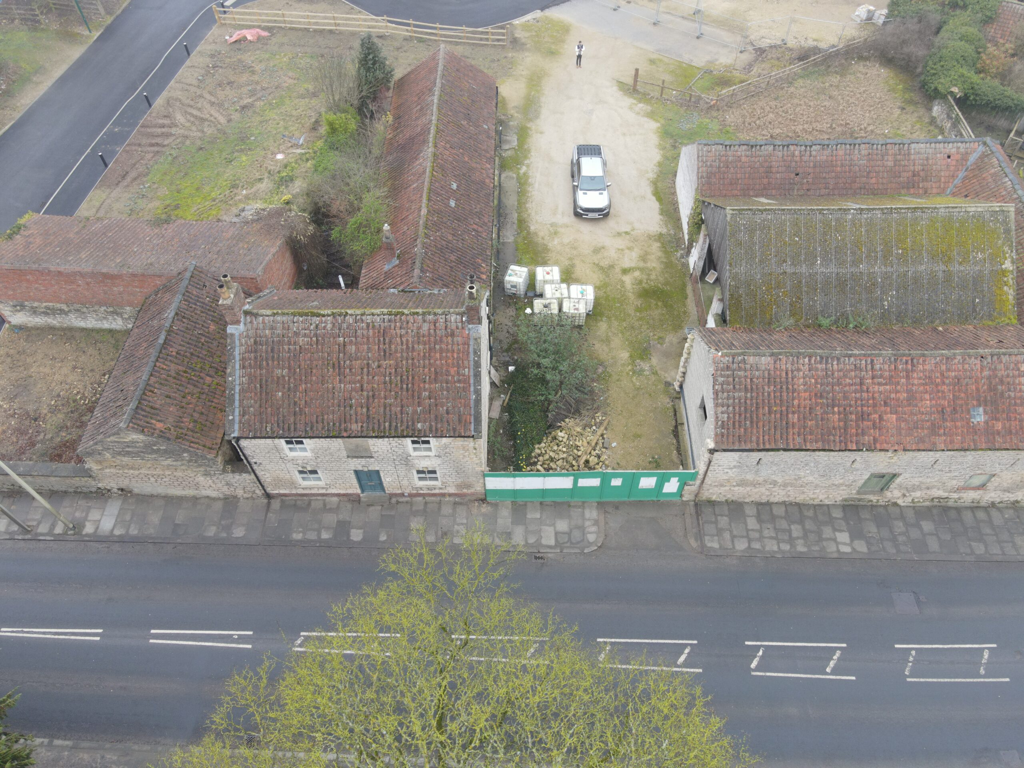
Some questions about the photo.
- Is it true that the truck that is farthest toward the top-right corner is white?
Yes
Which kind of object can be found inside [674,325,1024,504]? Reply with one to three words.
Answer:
barn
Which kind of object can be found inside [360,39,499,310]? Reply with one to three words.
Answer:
shed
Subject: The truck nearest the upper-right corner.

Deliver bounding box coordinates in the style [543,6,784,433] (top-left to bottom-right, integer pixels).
[571,144,613,219]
